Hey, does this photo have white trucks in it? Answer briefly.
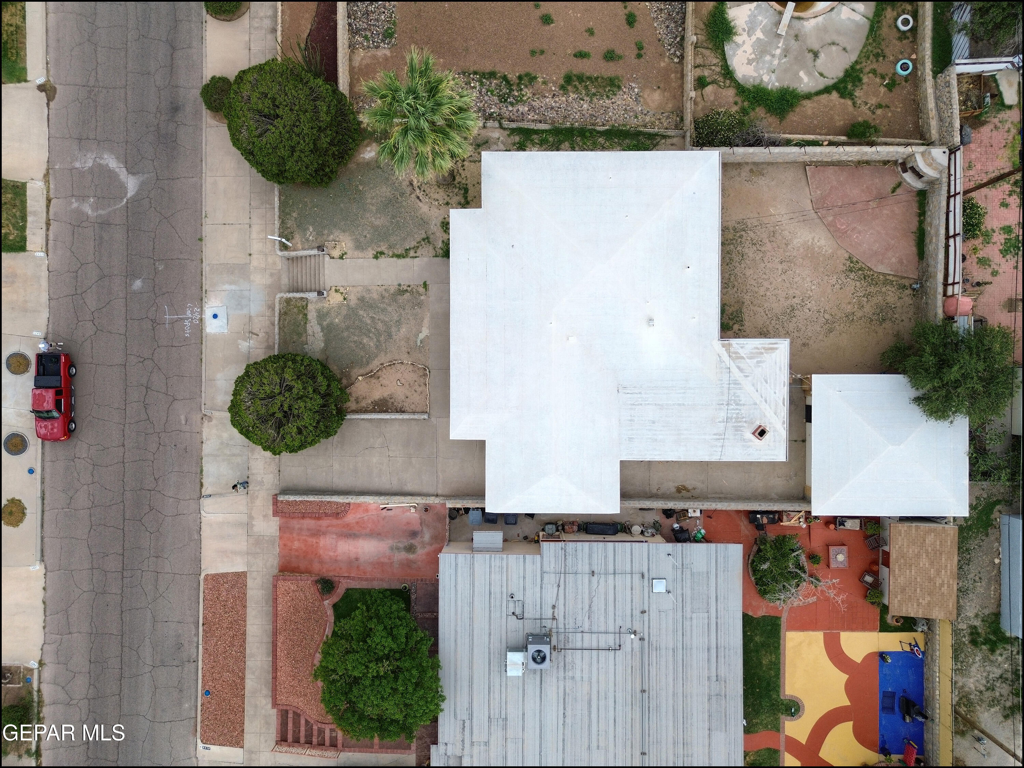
No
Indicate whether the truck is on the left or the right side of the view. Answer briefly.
left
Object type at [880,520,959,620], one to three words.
shed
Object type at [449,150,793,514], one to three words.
house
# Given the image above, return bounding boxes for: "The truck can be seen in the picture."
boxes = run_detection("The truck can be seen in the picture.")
[30,351,78,443]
